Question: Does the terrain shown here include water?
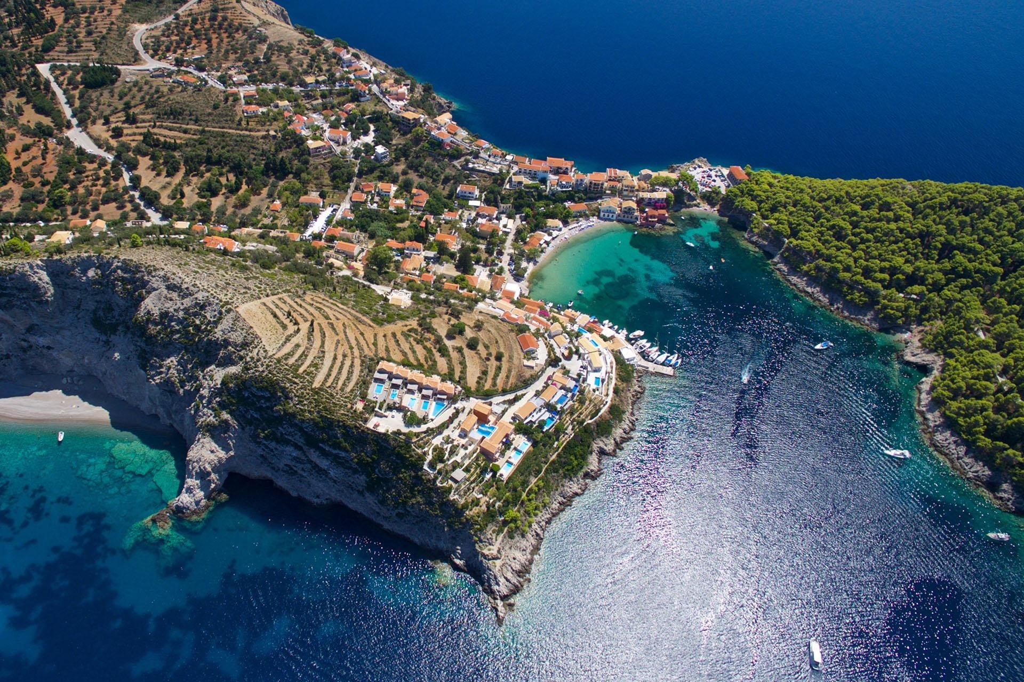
Yes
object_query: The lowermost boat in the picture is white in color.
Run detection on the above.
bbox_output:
[810,636,823,670]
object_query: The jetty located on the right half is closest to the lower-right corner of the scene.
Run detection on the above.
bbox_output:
[623,339,674,377]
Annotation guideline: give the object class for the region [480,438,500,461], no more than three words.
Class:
house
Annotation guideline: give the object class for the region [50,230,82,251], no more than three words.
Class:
house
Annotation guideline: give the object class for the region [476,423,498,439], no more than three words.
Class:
swimming pool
